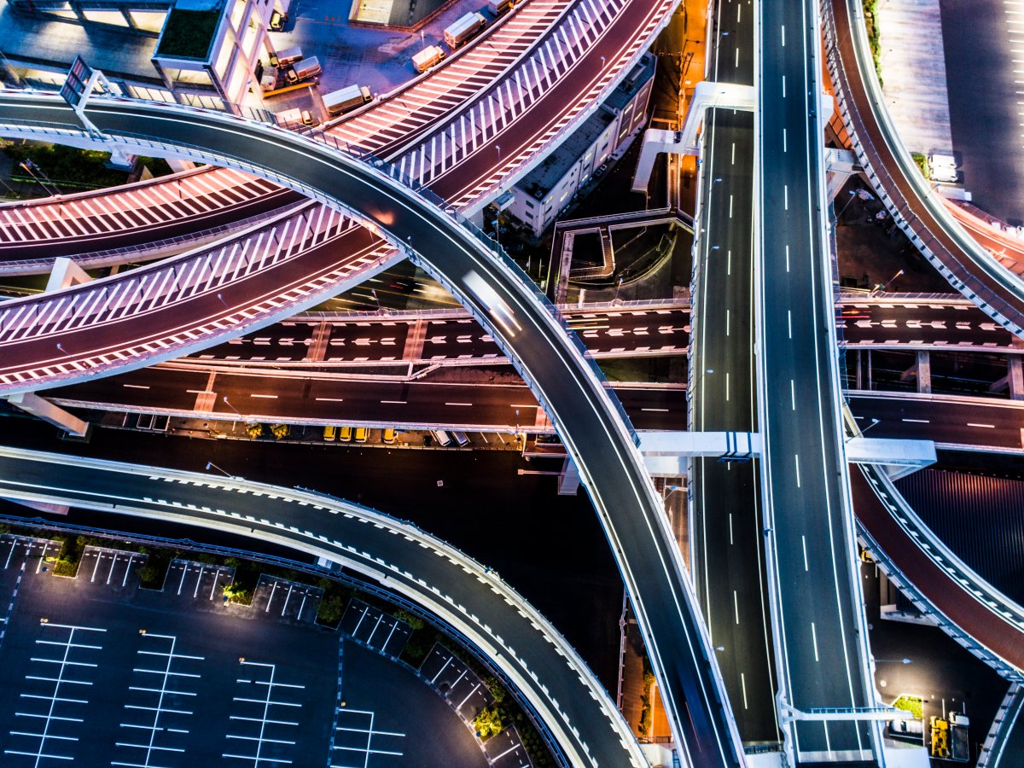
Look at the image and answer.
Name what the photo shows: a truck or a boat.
truck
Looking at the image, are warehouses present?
Yes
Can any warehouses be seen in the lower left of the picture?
No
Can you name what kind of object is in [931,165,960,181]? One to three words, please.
vehicle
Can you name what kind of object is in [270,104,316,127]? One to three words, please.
truck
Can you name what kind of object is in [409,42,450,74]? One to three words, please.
truck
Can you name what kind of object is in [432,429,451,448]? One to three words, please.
car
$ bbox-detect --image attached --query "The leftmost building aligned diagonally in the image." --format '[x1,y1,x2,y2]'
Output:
[491,54,658,233]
